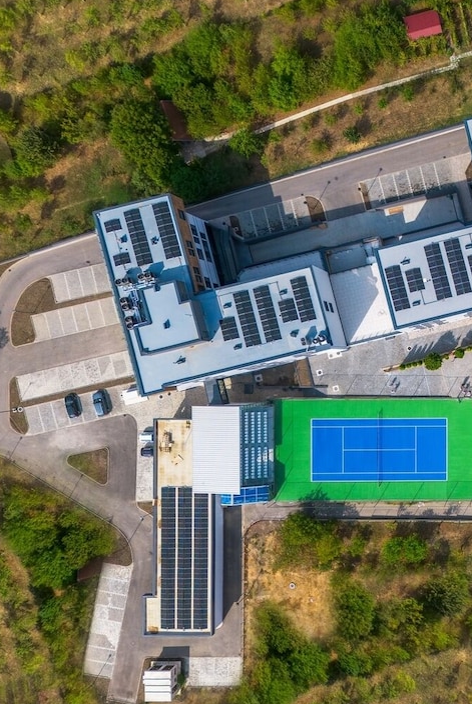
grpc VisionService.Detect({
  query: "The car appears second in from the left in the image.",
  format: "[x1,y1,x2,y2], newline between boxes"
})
[90,390,108,415]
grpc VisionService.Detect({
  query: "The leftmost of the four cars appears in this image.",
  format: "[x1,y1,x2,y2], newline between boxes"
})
[62,393,80,418]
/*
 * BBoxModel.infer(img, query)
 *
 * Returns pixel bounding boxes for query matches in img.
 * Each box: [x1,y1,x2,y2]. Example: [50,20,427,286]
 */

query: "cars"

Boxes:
[138,446,153,459]
[138,432,153,444]
[90,390,108,415]
[62,393,80,418]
